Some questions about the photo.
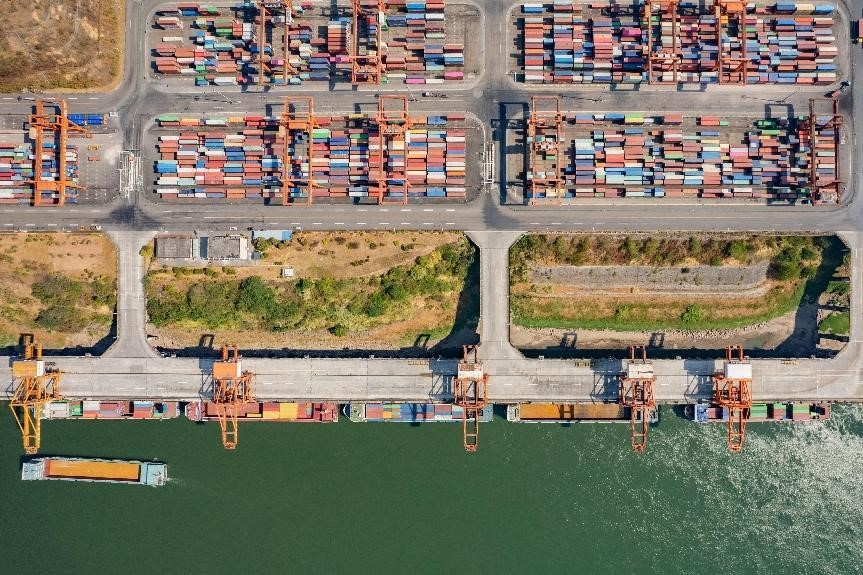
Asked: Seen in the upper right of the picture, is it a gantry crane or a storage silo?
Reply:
gantry crane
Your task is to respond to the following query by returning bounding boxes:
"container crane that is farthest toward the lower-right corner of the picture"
[700,345,756,454]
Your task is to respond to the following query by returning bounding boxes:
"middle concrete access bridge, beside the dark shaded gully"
[464,232,527,358]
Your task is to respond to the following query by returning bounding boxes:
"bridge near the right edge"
[830,232,863,359]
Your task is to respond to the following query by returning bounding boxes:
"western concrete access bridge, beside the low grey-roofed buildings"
[99,232,162,357]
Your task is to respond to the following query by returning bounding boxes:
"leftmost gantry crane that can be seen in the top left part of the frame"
[28,99,93,208]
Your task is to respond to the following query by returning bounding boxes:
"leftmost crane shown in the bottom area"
[9,343,75,451]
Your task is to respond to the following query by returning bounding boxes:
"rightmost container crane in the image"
[785,97,843,207]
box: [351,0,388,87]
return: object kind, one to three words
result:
container crane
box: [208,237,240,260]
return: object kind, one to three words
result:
building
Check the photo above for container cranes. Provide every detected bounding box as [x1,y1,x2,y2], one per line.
[704,0,748,87]
[28,99,93,208]
[785,97,843,207]
[700,345,756,454]
[351,0,388,87]
[279,95,325,207]
[606,344,654,453]
[448,344,488,453]
[637,0,678,87]
[521,95,562,207]
[213,343,261,452]
[375,94,415,207]
[9,343,75,451]
[259,0,302,87]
